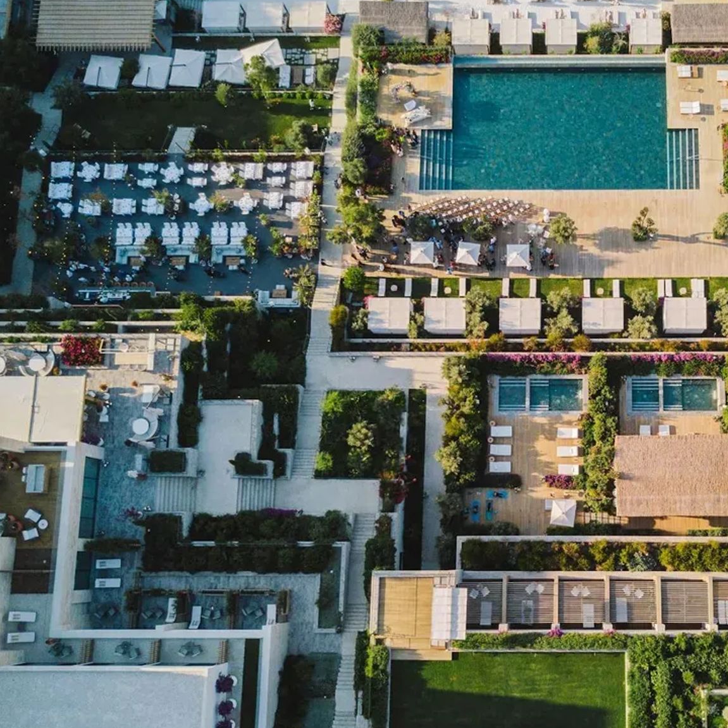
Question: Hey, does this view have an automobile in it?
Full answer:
No, there is no automobile in the image.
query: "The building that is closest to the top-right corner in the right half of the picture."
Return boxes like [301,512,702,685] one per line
[672,2,728,47]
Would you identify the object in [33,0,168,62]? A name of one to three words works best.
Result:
building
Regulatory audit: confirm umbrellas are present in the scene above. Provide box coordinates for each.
[134,57,173,106]
[506,245,530,269]
[245,39,288,75]
[549,499,577,528]
[455,242,481,267]
[170,53,207,102]
[83,56,126,106]
[211,52,248,87]
[410,241,435,266]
